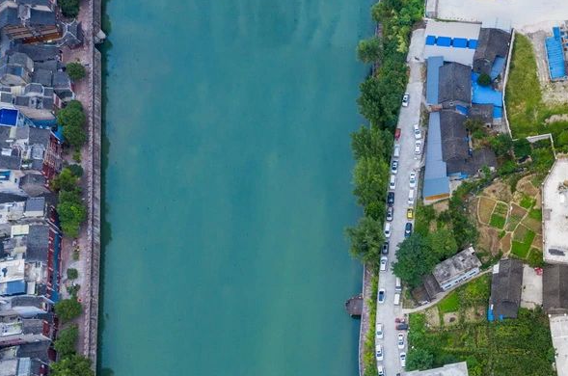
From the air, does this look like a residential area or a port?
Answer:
residential area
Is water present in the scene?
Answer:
Yes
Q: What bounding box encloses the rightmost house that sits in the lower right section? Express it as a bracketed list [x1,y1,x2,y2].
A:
[543,262,568,318]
